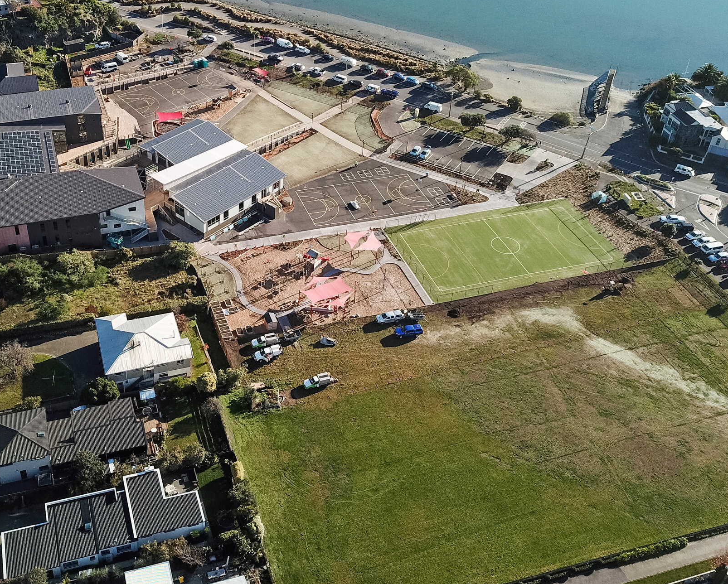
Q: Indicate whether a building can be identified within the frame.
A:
Yes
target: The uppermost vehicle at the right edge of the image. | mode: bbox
[674,164,695,176]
